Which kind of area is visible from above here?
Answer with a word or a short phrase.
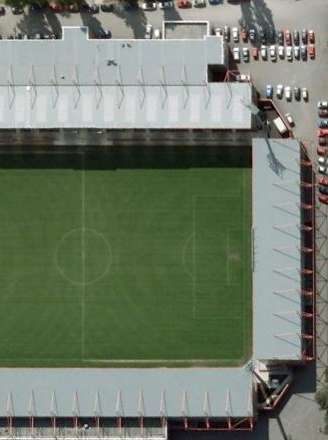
sports ground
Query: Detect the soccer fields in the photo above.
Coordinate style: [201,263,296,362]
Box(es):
[0,146,253,368]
